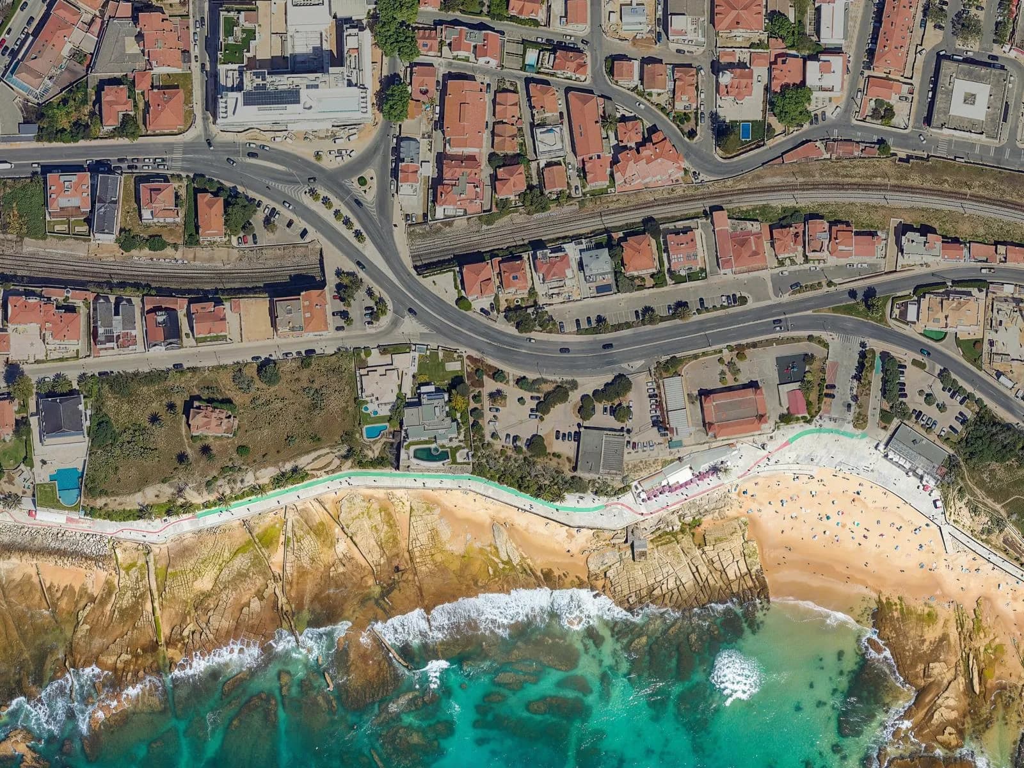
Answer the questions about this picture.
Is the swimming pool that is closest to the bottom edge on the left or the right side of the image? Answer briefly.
left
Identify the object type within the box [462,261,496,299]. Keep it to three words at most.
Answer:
house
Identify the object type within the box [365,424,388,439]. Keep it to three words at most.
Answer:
swimming pool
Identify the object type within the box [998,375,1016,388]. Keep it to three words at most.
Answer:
vehicle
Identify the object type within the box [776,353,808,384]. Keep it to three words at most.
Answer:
playground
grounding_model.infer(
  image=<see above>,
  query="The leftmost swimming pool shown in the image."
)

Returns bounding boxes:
[49,467,83,507]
